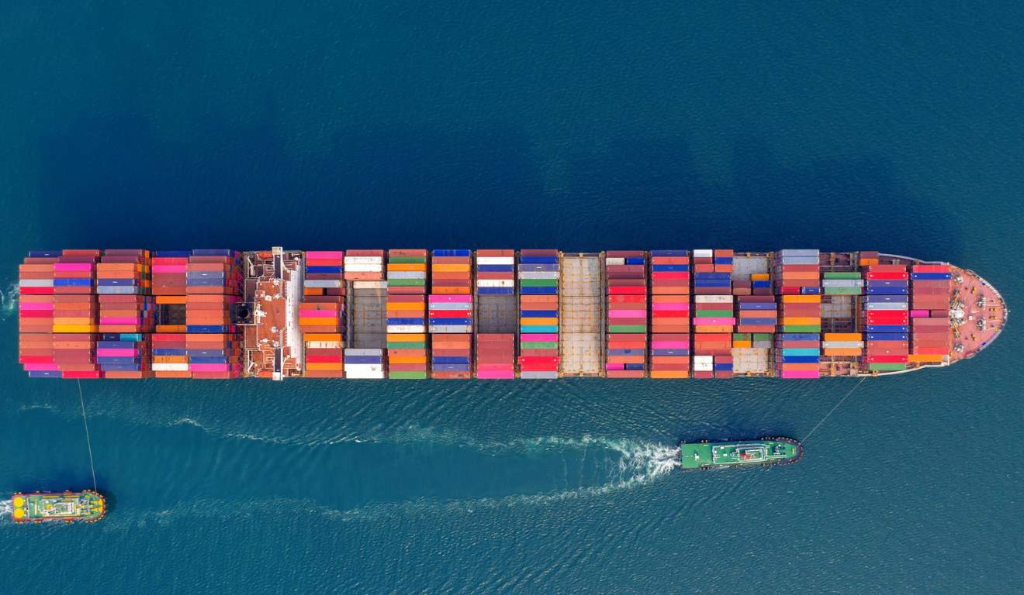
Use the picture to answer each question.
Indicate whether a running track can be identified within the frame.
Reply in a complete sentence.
No, the picture doesn't show any running track.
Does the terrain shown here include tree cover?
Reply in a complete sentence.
No, tree cover can't be seen anywhere here.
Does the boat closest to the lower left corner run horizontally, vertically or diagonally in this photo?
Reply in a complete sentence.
The boat closest to the lower left corner has been laid out horizontally relative to the frame.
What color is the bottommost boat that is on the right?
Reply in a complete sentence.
The bottommost boat that is on the right looks green in the image.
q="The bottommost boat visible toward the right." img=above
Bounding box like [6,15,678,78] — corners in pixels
[678,435,804,470]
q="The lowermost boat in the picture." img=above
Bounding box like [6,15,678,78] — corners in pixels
[11,489,109,525]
